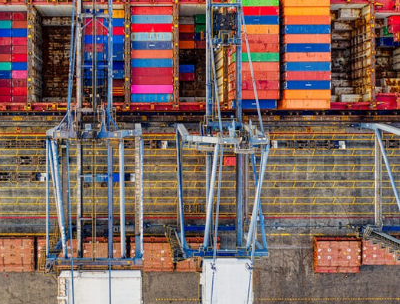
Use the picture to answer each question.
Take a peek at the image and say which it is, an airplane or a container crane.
container crane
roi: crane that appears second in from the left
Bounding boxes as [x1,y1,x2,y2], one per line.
[150,0,273,304]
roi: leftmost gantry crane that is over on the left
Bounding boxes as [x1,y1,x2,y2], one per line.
[39,0,148,304]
